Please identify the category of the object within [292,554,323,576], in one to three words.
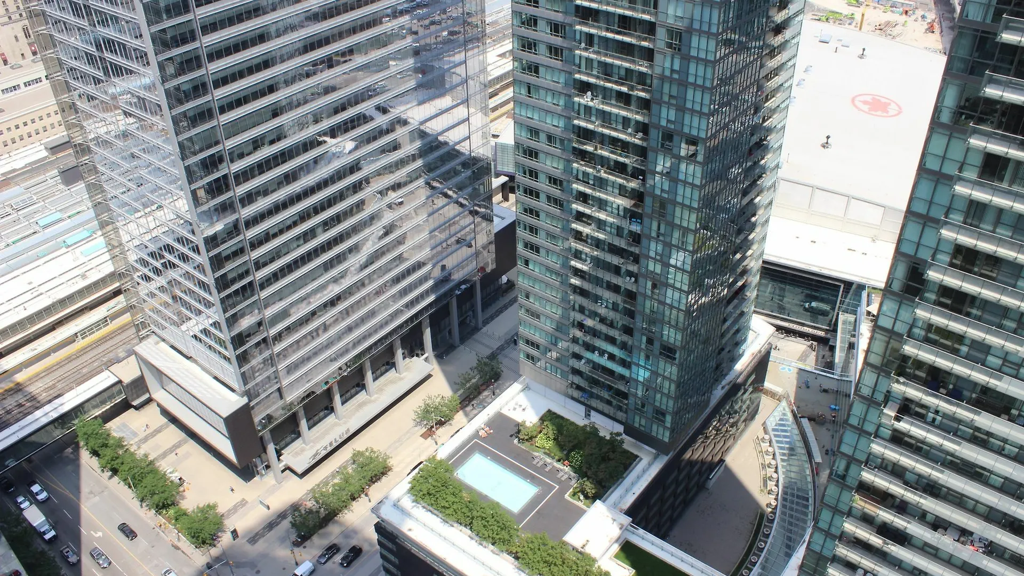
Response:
vehicle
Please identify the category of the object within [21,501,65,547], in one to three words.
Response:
truck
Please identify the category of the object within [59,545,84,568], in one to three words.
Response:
car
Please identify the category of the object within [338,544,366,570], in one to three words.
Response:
car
